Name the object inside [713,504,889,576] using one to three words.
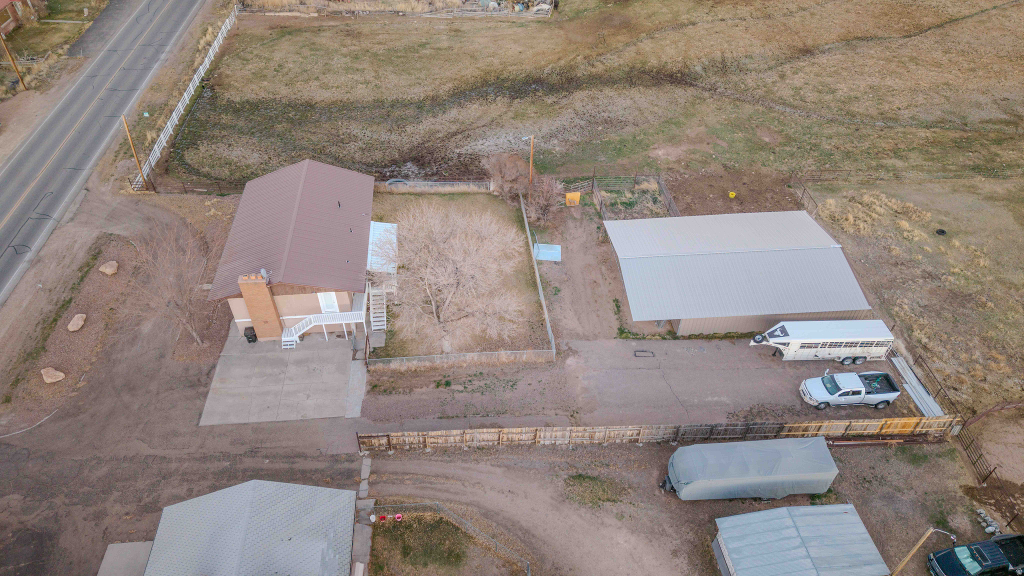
shed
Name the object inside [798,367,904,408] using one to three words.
truck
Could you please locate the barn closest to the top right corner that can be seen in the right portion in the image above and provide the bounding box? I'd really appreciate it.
[604,212,872,338]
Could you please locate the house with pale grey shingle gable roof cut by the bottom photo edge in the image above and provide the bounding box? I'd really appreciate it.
[141,480,359,576]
